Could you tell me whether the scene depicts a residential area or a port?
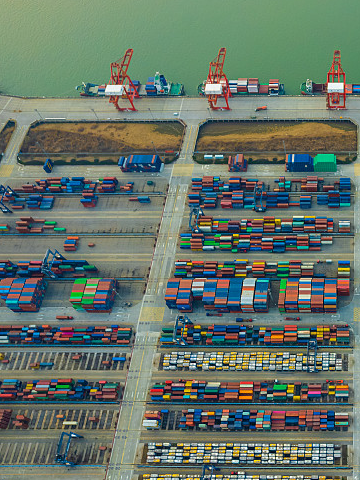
port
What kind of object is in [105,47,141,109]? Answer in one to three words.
container crane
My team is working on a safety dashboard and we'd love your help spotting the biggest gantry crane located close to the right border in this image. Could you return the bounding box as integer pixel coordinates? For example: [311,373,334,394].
[323,48,345,109]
